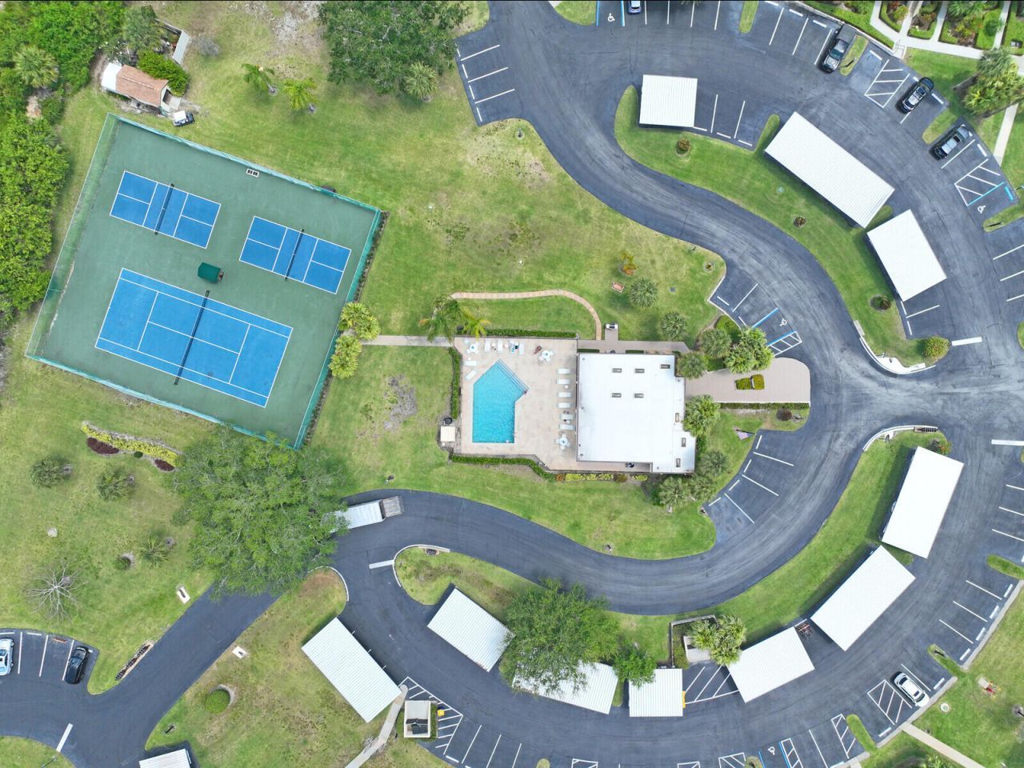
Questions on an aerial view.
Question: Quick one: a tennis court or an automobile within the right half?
automobile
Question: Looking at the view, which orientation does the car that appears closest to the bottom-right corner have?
at an angle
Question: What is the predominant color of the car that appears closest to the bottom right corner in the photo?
white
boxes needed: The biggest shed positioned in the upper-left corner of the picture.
[101,63,183,110]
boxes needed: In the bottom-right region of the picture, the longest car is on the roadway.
[891,670,928,708]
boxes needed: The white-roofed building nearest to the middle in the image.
[576,354,695,473]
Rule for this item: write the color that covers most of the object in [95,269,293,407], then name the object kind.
blue tennis court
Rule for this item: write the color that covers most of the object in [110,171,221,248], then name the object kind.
blue sports court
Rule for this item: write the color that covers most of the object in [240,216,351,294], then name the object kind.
blue sports court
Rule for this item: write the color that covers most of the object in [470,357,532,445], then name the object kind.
blue swimming pool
